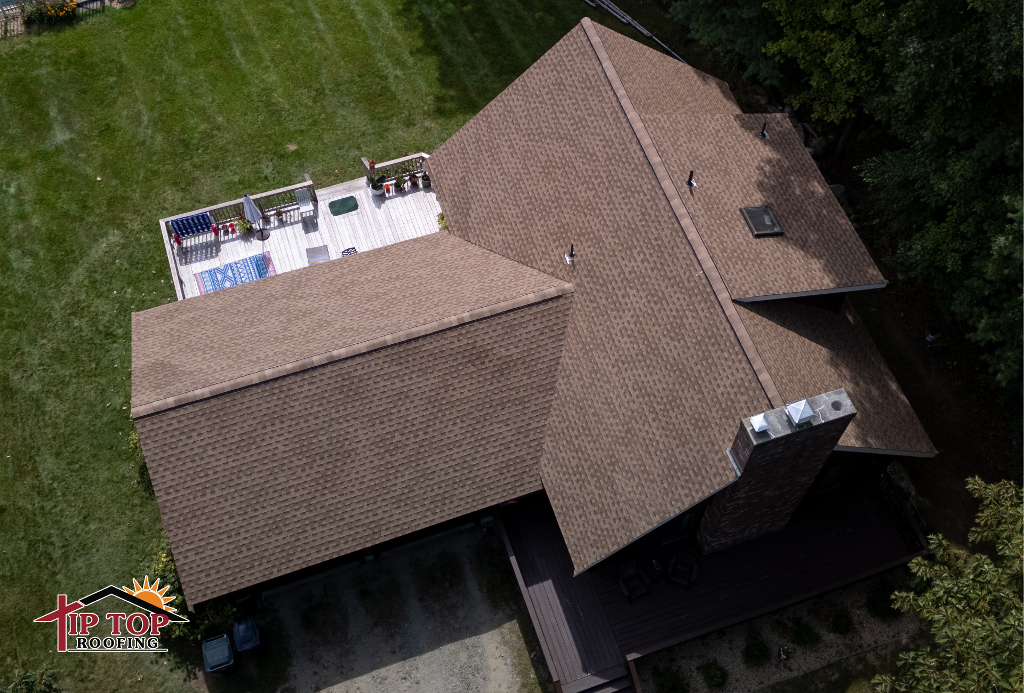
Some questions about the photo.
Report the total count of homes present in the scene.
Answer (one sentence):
The count comes to 1 home.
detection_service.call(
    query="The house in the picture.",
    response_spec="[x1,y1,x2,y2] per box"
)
[129,22,937,613]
